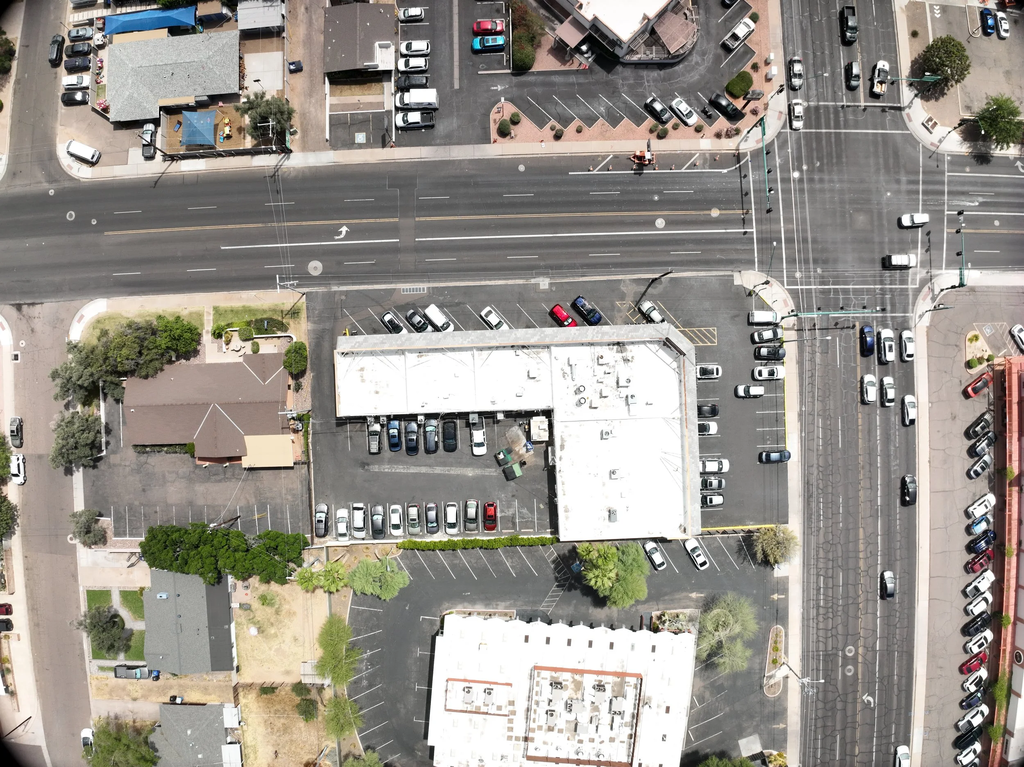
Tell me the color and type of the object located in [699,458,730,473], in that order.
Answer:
white vehicle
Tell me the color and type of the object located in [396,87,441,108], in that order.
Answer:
white truck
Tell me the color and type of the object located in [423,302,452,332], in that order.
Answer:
white van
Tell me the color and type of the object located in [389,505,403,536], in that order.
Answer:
white car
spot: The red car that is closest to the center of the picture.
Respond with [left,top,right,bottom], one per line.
[550,302,575,327]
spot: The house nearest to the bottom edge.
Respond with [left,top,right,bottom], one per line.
[154,700,242,767]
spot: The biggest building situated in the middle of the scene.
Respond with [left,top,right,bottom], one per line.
[334,322,701,542]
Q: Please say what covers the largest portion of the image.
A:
paved ground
